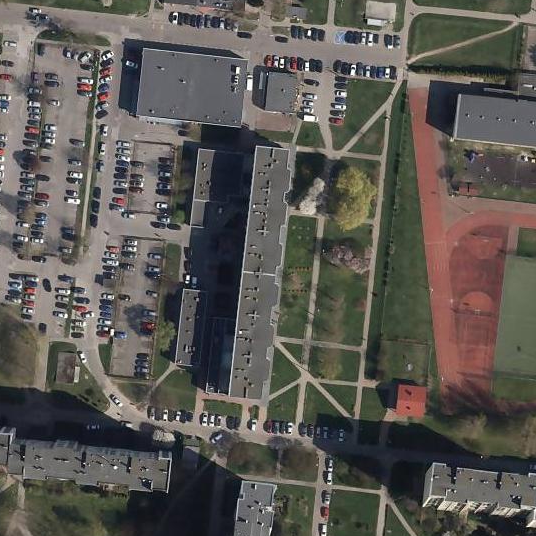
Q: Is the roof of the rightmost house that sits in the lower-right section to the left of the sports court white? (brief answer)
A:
No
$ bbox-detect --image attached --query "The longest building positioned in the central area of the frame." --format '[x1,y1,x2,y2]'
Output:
[231,146,293,403]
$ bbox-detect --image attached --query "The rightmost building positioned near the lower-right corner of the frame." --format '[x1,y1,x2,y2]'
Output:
[429,462,536,521]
